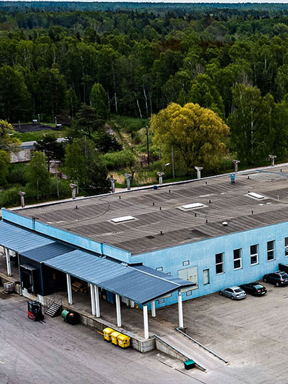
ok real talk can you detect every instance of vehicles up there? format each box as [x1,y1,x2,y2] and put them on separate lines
[263,271,288,287]
[241,282,266,296]
[219,287,247,301]
[26,302,50,321]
